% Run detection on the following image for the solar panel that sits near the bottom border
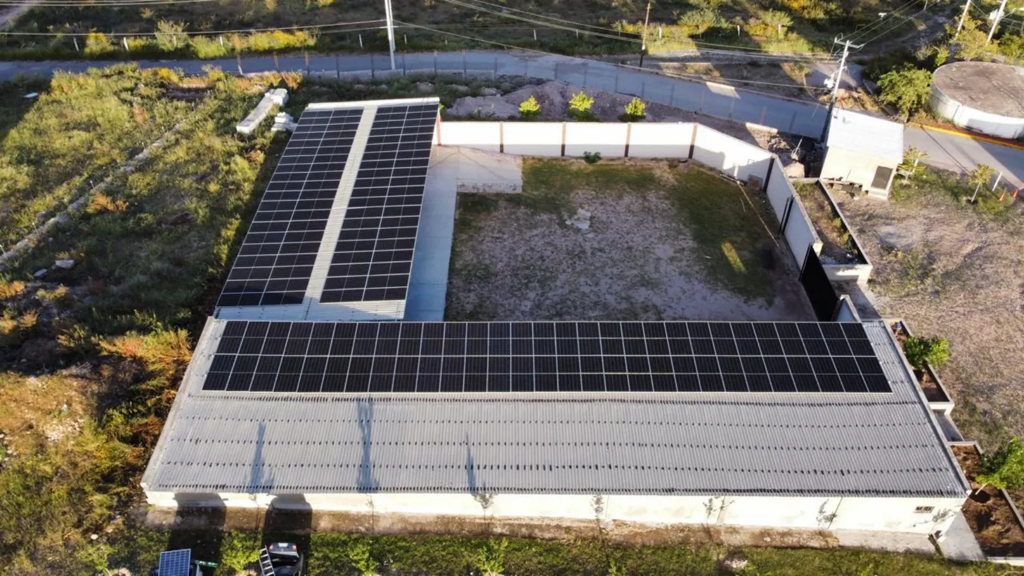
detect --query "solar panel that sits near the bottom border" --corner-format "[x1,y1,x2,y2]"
[148,549,186,576]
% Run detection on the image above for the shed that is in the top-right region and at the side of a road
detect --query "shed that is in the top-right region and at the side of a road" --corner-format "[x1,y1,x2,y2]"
[823,108,909,200]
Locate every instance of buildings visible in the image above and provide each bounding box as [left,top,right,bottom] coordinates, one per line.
[140,318,970,536]
[823,108,909,200]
